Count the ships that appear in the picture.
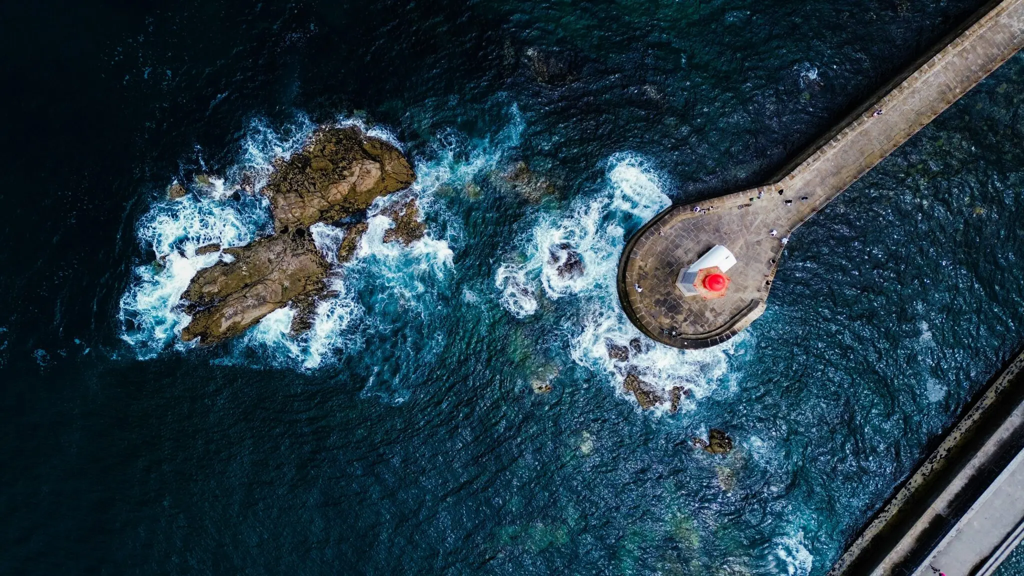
0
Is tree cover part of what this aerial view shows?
No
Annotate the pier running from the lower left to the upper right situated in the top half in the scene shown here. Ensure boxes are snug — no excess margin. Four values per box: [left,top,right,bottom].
[617,0,1024,352]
